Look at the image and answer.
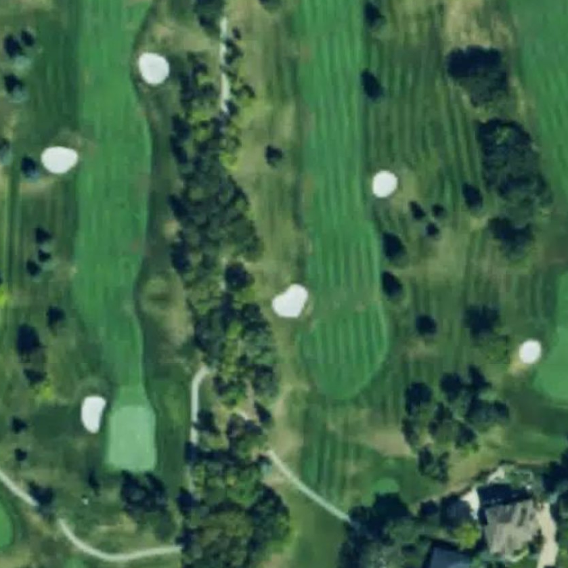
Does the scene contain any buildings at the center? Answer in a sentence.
No, at the center there is no building.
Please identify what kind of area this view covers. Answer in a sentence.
This image shows a golf course.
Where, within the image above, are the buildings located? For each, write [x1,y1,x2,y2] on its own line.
[483,505,542,556]
[435,546,482,568]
